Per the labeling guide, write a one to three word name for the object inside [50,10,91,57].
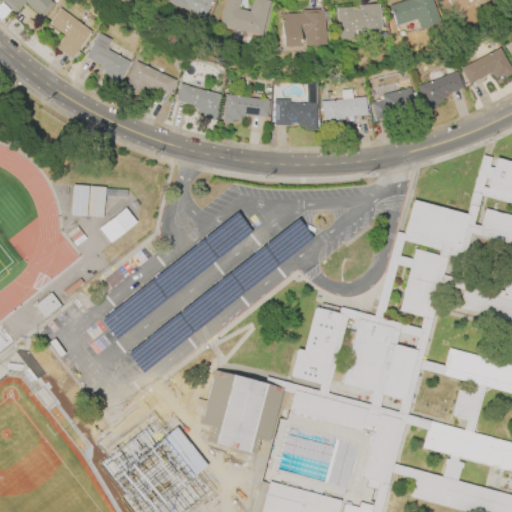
house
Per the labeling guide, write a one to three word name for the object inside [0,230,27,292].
sports field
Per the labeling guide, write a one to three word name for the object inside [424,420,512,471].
building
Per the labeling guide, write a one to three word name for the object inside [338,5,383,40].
house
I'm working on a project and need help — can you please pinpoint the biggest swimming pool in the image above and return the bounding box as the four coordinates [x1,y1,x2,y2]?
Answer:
[264,412,378,506]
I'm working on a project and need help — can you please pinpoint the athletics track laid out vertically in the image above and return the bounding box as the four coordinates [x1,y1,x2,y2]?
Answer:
[0,145,80,320]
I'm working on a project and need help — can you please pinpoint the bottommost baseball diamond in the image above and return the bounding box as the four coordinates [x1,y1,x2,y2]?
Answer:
[0,376,116,512]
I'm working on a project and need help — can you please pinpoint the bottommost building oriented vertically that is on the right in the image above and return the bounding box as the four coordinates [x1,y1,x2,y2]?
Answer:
[364,412,408,512]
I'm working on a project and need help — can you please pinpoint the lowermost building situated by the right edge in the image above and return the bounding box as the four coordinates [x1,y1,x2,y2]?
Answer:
[410,468,512,512]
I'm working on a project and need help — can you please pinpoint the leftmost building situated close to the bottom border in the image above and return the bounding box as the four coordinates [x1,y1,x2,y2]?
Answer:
[102,424,226,512]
